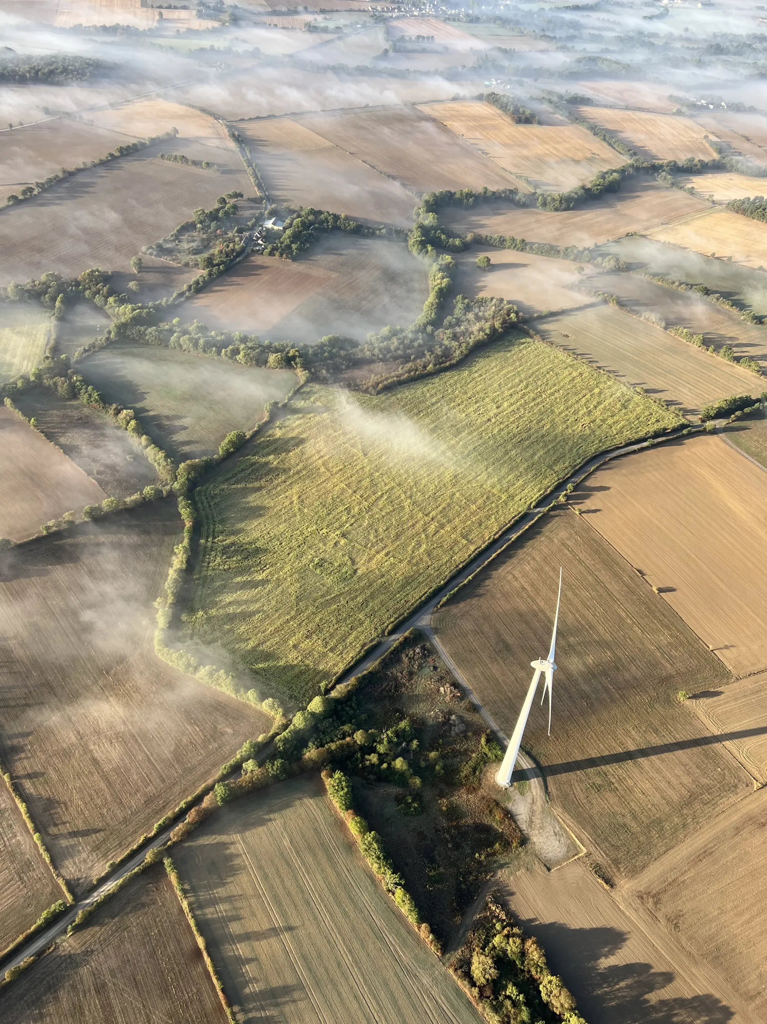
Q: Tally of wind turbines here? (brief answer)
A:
1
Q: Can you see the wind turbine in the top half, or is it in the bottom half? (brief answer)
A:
bottom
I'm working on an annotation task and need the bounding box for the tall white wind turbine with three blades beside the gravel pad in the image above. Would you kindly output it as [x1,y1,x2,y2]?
[493,566,562,787]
